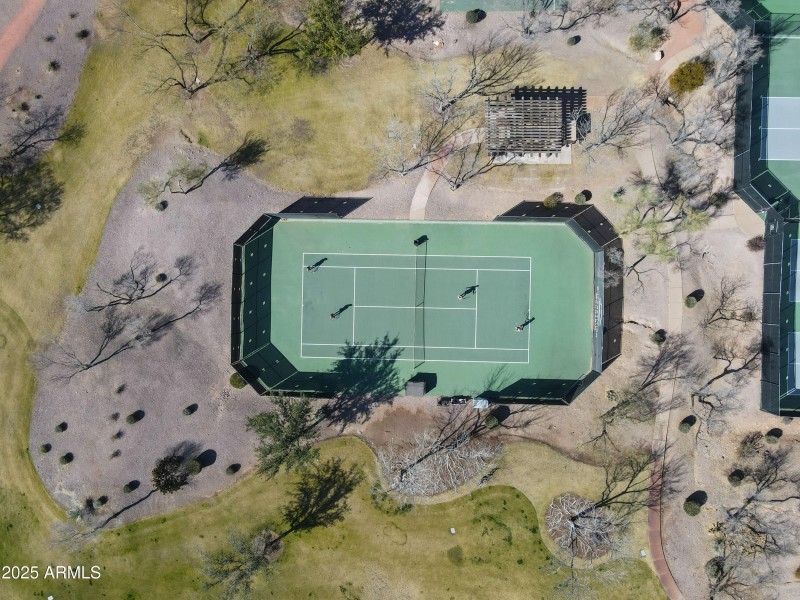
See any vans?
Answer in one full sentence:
No, there appears to be no van in this shot.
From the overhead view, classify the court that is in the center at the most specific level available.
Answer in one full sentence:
In the photo, the court that is in the center shows up as a tennis court.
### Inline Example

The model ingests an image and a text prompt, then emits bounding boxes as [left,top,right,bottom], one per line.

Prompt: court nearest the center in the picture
[242,218,594,399]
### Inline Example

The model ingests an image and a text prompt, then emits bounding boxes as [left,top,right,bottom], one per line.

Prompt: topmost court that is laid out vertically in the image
[737,36,800,223]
